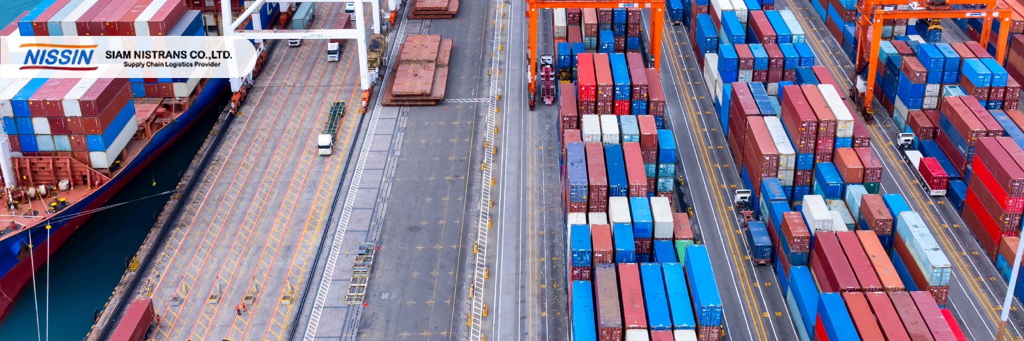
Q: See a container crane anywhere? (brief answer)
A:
Yes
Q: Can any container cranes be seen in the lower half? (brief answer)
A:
No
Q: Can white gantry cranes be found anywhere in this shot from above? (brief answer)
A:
Yes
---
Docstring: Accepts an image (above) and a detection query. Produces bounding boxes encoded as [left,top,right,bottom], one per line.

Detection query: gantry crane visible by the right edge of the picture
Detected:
[844,0,1013,120]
